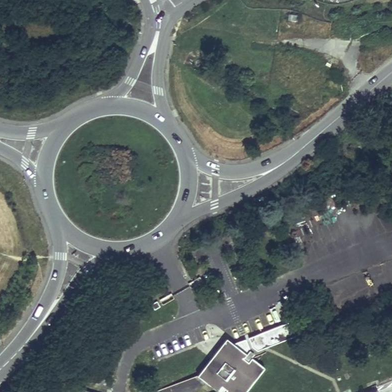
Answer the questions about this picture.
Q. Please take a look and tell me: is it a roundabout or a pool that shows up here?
roundabout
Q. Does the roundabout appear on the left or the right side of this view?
left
